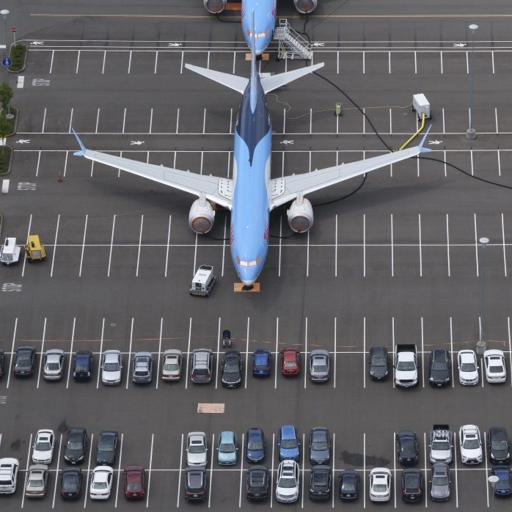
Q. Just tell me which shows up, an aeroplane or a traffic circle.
aeroplane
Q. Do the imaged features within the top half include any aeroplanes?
Yes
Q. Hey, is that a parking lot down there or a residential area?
parking lot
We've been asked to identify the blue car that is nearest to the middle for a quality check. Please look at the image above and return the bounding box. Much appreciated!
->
[251,349,274,376]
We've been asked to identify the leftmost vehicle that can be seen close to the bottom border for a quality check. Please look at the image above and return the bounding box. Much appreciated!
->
[0,458,20,493]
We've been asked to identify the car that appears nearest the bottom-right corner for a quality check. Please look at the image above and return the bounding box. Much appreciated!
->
[490,463,512,495]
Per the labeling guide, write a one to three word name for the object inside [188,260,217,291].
truck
